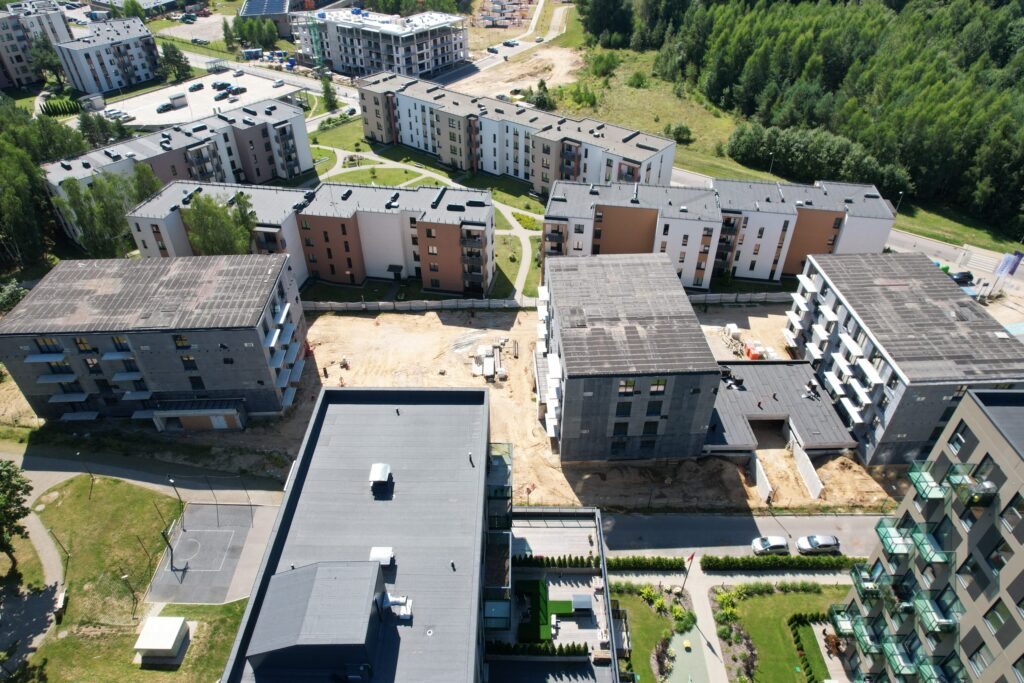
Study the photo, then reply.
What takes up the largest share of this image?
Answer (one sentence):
The largest share of the image is taken up by buildings.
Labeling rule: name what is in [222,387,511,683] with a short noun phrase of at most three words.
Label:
building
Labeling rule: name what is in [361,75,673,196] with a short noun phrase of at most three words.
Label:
building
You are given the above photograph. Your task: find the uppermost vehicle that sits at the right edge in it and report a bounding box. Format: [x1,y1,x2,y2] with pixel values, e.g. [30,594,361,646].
[947,269,978,282]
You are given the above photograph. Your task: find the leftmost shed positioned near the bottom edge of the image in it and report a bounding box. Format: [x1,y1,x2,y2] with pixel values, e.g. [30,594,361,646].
[135,617,199,668]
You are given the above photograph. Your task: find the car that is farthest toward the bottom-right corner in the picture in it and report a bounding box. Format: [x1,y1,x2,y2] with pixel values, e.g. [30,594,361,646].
[797,534,843,555]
